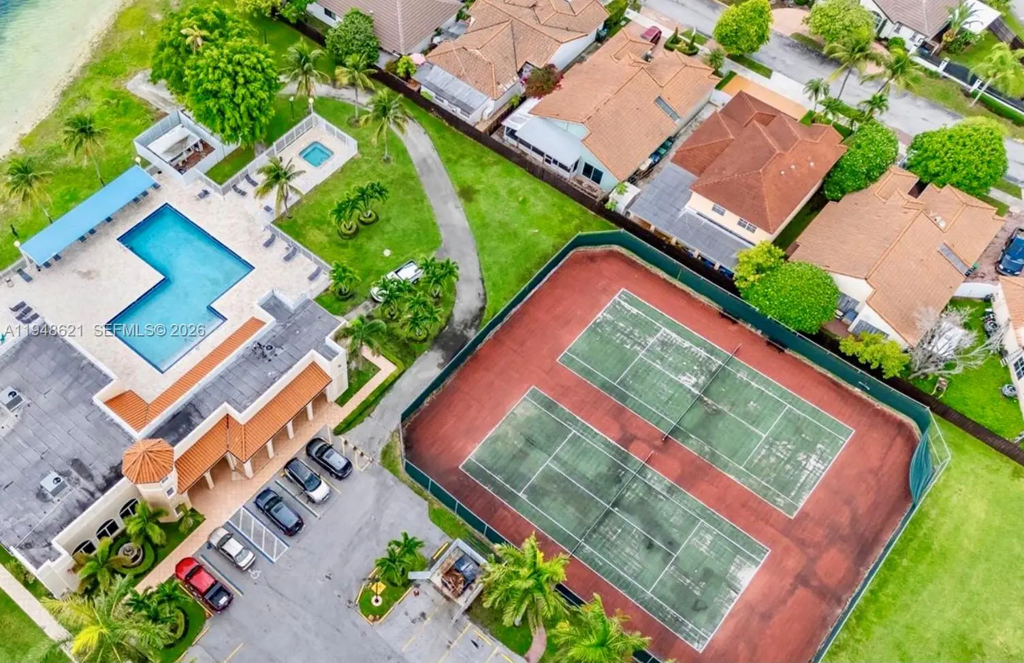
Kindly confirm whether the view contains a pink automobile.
Yes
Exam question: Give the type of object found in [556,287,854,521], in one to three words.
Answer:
tennis court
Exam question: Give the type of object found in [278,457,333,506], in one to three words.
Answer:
car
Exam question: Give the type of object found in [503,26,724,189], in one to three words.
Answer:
house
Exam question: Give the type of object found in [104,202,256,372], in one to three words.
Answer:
swimming pool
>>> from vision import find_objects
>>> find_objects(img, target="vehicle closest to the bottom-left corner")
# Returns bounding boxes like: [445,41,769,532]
[172,553,239,618]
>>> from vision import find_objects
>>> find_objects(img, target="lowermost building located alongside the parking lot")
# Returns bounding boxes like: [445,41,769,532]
[0,292,349,600]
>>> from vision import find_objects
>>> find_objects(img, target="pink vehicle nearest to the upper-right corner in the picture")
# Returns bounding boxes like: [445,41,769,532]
[637,22,668,51]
